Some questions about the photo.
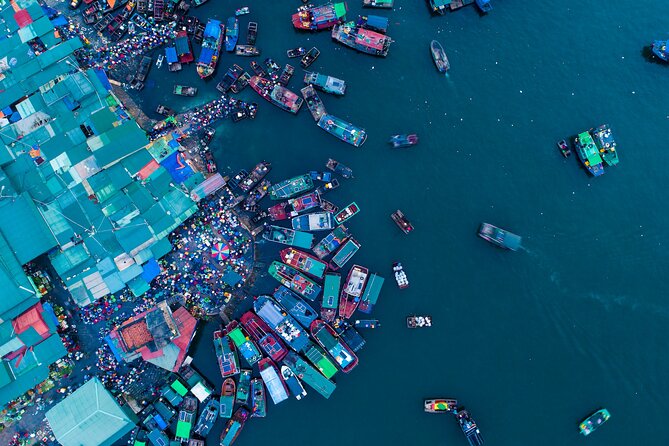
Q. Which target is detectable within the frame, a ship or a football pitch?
ship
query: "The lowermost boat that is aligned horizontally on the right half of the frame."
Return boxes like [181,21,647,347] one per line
[424,397,456,411]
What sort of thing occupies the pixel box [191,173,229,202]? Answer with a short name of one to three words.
shed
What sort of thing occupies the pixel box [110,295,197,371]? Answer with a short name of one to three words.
house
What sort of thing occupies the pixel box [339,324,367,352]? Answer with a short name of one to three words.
ship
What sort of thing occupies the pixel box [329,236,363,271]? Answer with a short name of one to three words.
boat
